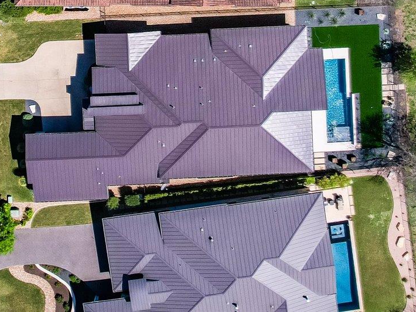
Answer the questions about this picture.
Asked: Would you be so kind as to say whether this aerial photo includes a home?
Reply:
Yes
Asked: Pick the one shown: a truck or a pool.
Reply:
pool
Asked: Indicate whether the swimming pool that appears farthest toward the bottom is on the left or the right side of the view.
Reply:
right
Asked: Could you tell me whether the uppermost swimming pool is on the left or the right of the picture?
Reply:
right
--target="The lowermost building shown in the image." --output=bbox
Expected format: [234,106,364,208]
[83,188,338,312]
